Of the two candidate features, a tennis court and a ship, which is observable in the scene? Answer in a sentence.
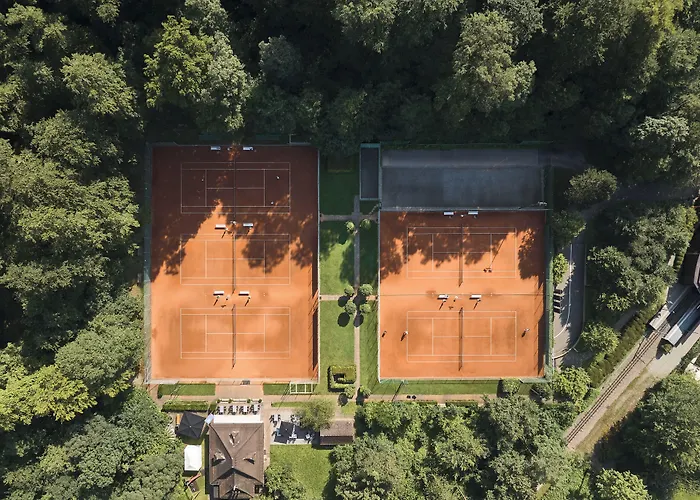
The image shows a tennis court.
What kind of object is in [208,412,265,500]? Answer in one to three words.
building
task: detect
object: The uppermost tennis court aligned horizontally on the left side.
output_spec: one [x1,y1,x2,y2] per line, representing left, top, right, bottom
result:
[151,146,317,223]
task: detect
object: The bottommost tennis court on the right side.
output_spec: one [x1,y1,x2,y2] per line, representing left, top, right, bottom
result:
[379,288,545,378]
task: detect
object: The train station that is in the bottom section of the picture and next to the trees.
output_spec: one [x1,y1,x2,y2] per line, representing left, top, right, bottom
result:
[644,282,700,345]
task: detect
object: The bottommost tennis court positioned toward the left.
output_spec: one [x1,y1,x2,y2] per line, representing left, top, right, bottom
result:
[151,289,317,379]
